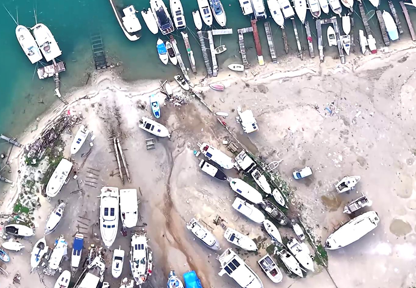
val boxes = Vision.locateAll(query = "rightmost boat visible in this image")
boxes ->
[383,10,399,41]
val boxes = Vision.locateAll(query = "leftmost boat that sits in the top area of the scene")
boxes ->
[17,24,43,64]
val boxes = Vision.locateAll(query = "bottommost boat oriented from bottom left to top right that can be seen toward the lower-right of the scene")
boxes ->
[325,208,383,249]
